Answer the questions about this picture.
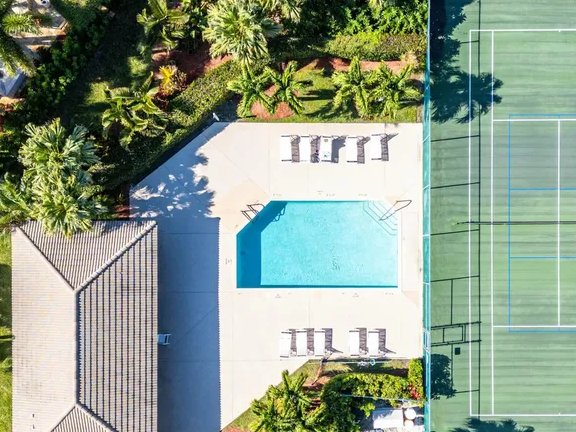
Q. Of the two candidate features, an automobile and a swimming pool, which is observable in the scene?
swimming pool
